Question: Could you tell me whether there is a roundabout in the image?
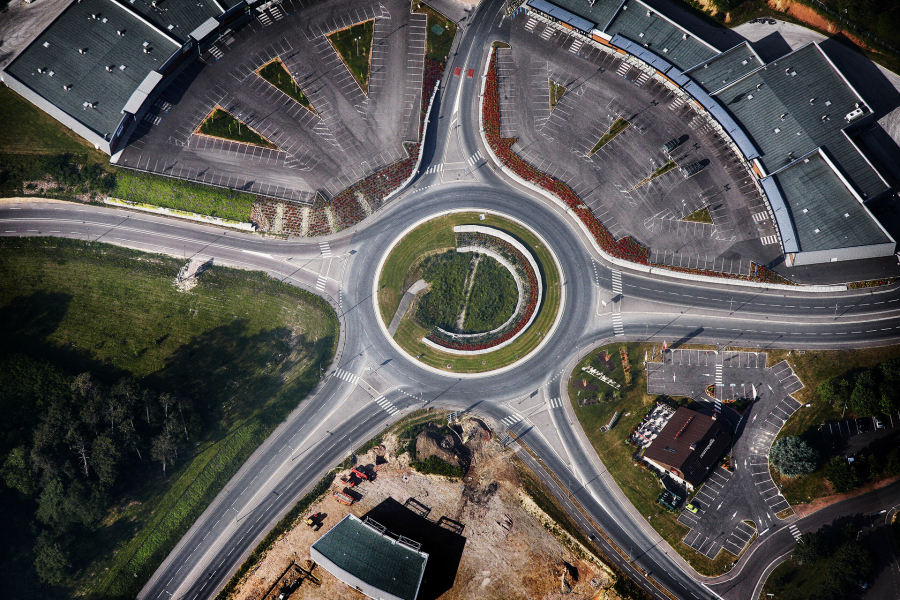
Yes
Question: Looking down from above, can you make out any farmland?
No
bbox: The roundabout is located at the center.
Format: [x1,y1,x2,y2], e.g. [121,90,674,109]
[339,181,599,409]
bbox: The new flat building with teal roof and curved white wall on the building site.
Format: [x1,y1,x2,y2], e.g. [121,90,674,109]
[310,514,428,600]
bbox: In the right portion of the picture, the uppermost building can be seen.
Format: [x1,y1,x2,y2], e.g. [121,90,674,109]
[526,0,627,44]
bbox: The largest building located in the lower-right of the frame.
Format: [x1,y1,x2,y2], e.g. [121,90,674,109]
[643,406,733,487]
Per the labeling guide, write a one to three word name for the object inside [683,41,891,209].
building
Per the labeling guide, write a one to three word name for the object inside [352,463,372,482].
work vehicle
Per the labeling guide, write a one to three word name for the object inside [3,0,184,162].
building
